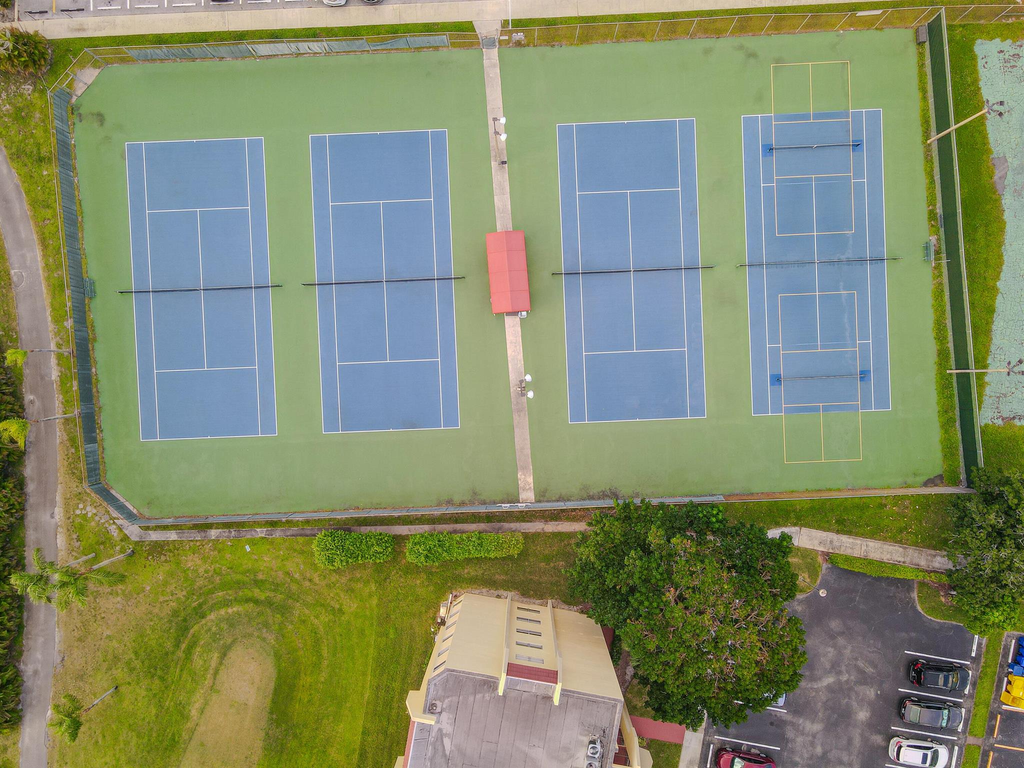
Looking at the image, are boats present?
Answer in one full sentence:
No, I can't see a single boat in this photo.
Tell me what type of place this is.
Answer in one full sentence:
The picture captures a sports ground.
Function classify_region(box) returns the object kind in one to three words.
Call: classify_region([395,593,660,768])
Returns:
building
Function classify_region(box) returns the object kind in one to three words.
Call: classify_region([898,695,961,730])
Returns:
car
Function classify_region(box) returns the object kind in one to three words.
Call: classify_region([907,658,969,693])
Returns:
car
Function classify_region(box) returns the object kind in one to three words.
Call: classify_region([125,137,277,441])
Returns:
tennis court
